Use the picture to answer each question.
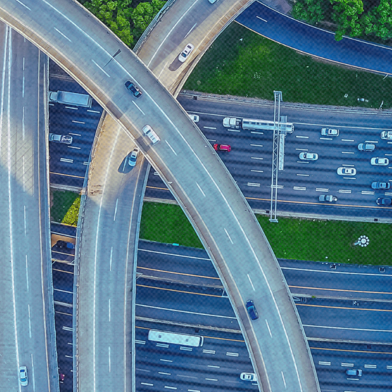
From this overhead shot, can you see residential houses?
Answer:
No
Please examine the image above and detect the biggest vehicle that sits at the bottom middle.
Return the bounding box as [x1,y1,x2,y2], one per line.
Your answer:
[148,328,205,348]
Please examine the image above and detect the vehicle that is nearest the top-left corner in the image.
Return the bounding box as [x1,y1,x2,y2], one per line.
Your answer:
[51,90,94,108]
